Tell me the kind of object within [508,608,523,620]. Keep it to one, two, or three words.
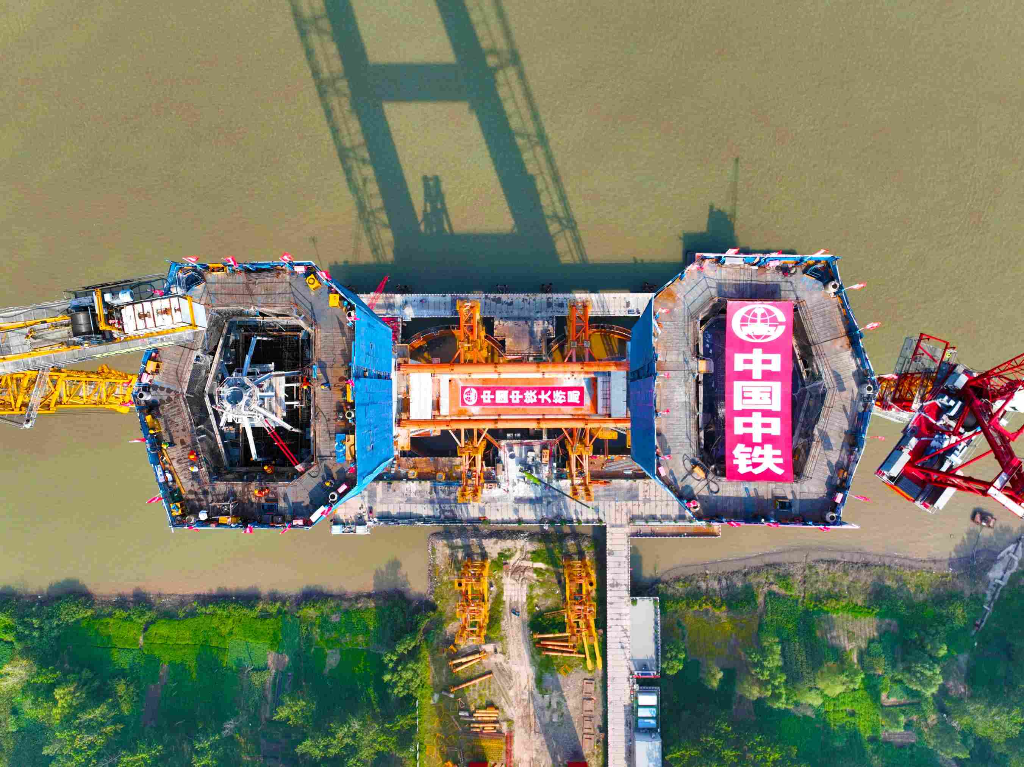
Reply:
vehicle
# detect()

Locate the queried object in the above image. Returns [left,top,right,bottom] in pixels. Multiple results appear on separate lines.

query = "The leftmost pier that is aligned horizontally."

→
[629,525,721,538]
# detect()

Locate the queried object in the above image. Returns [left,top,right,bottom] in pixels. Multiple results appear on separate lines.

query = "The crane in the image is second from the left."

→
[367,274,398,343]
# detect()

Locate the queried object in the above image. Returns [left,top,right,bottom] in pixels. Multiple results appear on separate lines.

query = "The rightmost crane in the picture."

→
[873,331,1024,524]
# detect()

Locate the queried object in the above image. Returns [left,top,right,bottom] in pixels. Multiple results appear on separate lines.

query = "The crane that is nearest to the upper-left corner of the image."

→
[0,268,211,434]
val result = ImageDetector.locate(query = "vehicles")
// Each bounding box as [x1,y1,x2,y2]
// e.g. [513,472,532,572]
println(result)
[516,460,594,510]
[508,608,523,620]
